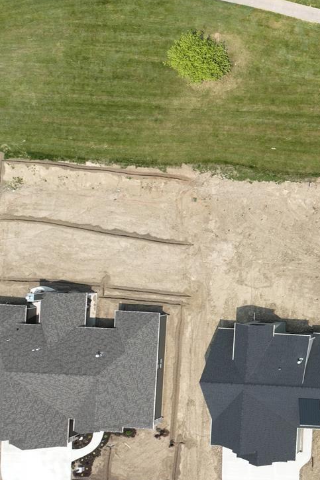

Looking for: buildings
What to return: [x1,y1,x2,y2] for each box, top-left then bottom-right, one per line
[199,322,320,467]
[0,292,164,452]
